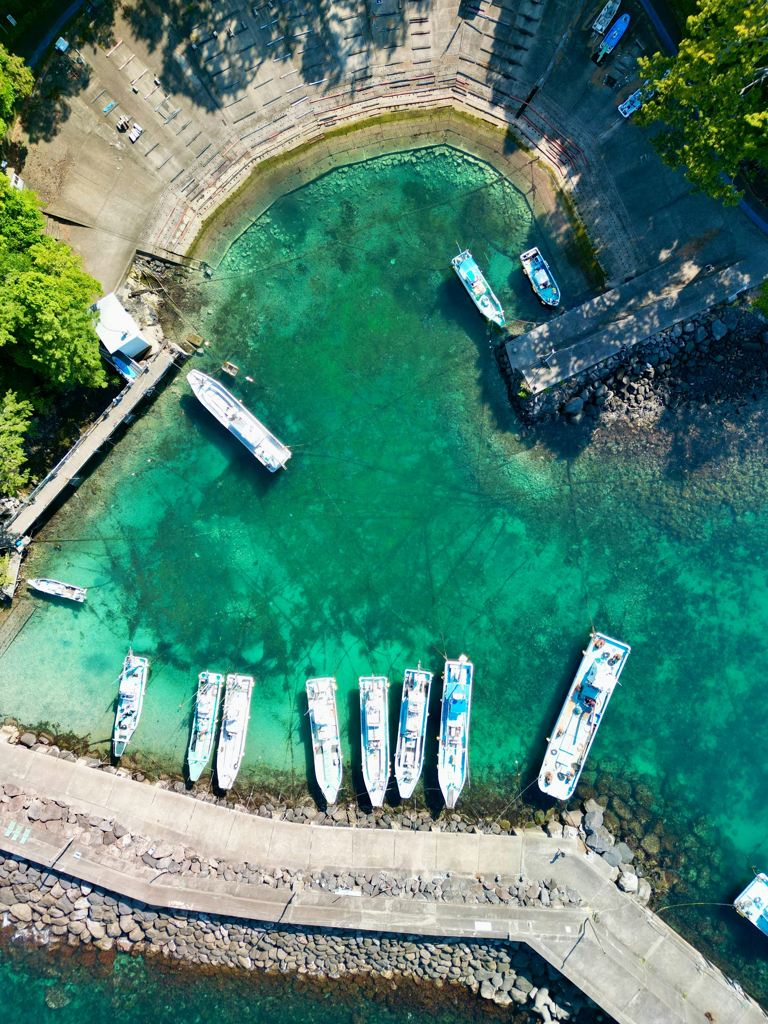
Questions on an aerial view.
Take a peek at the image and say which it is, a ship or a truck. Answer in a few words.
ship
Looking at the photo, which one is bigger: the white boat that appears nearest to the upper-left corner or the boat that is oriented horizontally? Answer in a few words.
the white boat that appears nearest to the upper-left corner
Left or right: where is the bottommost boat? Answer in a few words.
right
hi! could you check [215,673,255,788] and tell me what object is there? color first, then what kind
white boat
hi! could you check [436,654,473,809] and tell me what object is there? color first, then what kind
white boat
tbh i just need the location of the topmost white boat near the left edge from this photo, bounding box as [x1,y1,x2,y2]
[28,578,89,602]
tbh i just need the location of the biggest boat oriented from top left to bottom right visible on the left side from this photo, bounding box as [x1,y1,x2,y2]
[187,369,292,473]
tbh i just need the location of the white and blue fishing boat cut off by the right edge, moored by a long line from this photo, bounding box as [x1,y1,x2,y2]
[729,868,768,936]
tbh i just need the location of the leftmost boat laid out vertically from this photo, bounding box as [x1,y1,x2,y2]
[111,646,150,756]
